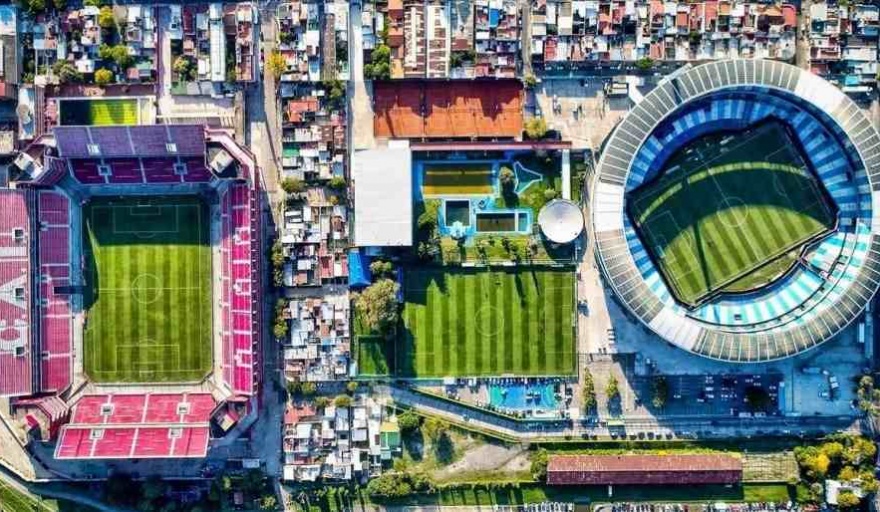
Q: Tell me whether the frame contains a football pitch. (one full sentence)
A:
Yes, the image includes a football pitch.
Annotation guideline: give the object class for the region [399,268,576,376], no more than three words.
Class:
soccer field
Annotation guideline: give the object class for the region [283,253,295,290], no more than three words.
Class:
house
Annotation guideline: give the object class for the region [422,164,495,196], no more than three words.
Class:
swimming pool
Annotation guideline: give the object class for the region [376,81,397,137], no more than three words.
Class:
tennis court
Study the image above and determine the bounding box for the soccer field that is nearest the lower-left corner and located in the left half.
[83,197,211,383]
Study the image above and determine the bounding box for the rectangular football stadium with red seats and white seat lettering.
[0,125,267,459]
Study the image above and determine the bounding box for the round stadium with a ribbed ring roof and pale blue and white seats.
[584,54,880,361]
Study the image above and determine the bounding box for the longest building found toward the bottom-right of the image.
[547,453,745,498]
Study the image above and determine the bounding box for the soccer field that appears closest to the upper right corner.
[630,120,830,305]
